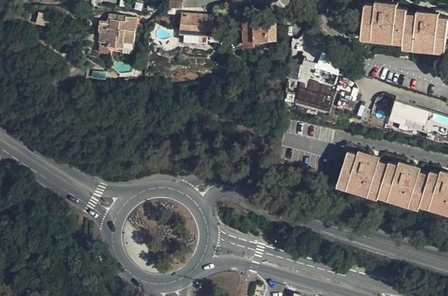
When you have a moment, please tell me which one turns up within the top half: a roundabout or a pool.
pool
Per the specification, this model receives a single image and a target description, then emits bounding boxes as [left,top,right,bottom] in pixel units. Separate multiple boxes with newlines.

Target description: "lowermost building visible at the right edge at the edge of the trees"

[336,150,448,218]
